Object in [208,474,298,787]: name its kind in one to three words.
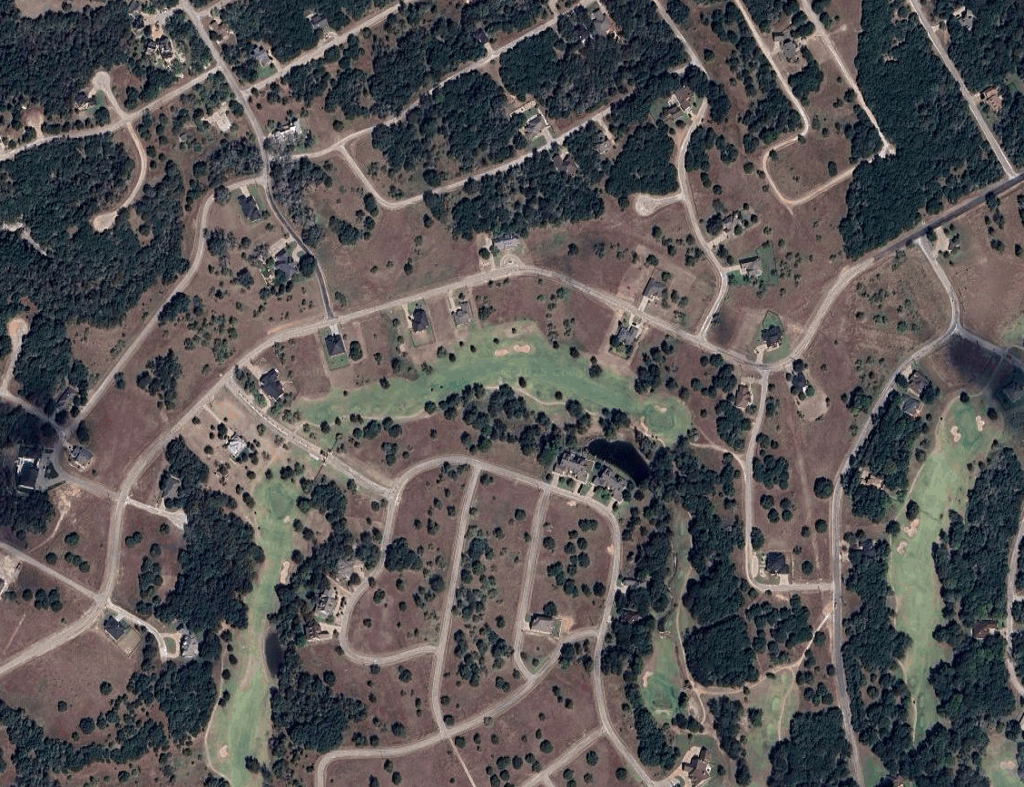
golf course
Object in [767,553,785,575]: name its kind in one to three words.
house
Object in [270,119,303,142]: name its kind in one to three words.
house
